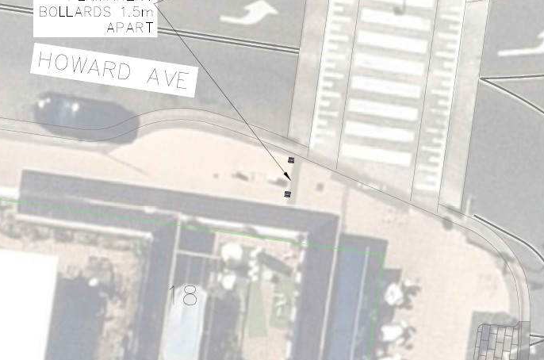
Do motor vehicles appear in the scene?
Yes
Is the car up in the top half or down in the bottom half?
top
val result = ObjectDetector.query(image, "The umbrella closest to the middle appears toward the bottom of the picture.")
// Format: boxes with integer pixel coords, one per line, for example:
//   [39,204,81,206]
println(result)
[219,243,240,264]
